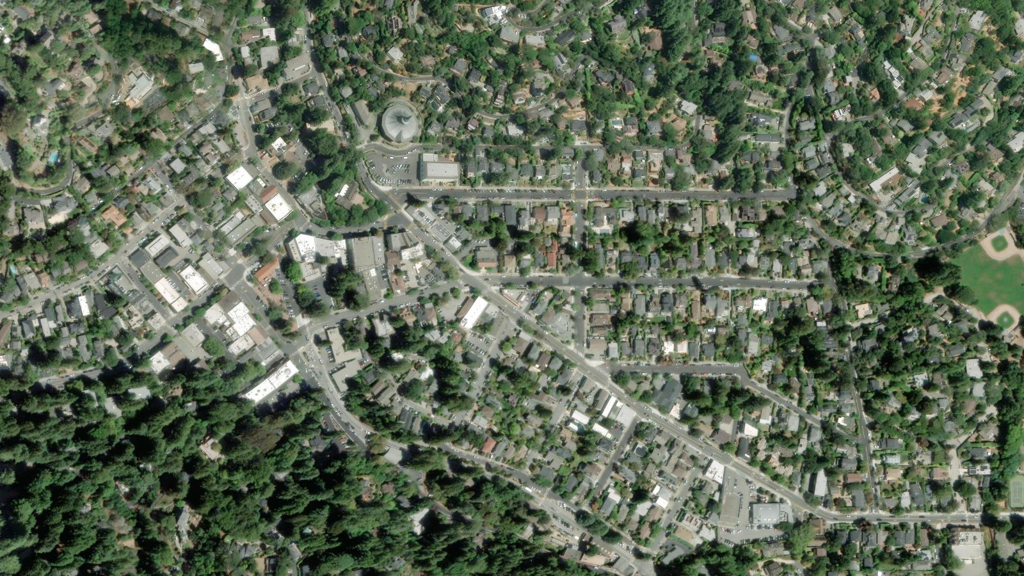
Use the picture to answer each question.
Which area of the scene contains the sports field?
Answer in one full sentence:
The sports field appears toward the right of the photo.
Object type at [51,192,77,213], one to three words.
house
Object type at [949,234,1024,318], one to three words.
sports field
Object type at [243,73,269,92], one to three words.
building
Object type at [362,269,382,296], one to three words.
building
